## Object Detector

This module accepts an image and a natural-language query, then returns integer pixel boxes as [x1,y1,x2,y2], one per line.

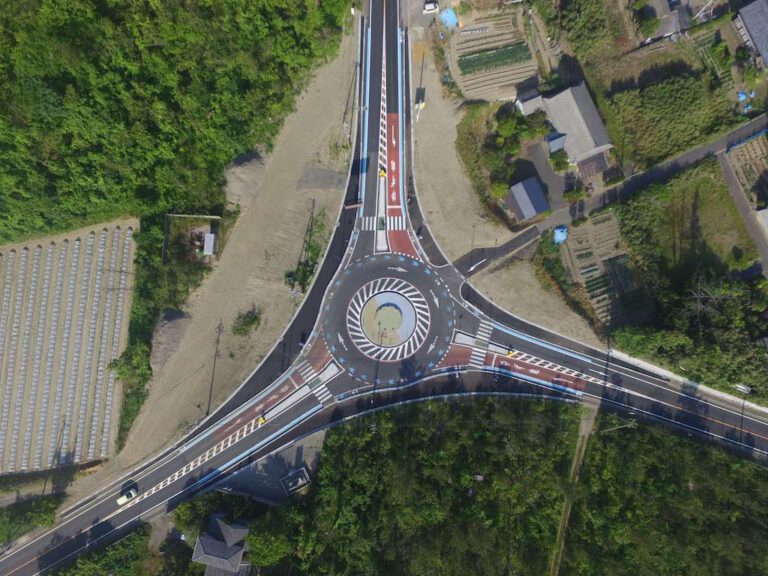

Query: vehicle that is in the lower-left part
[118,488,139,504]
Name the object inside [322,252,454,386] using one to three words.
roundabout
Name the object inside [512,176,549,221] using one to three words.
barn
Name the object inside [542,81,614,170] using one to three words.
house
